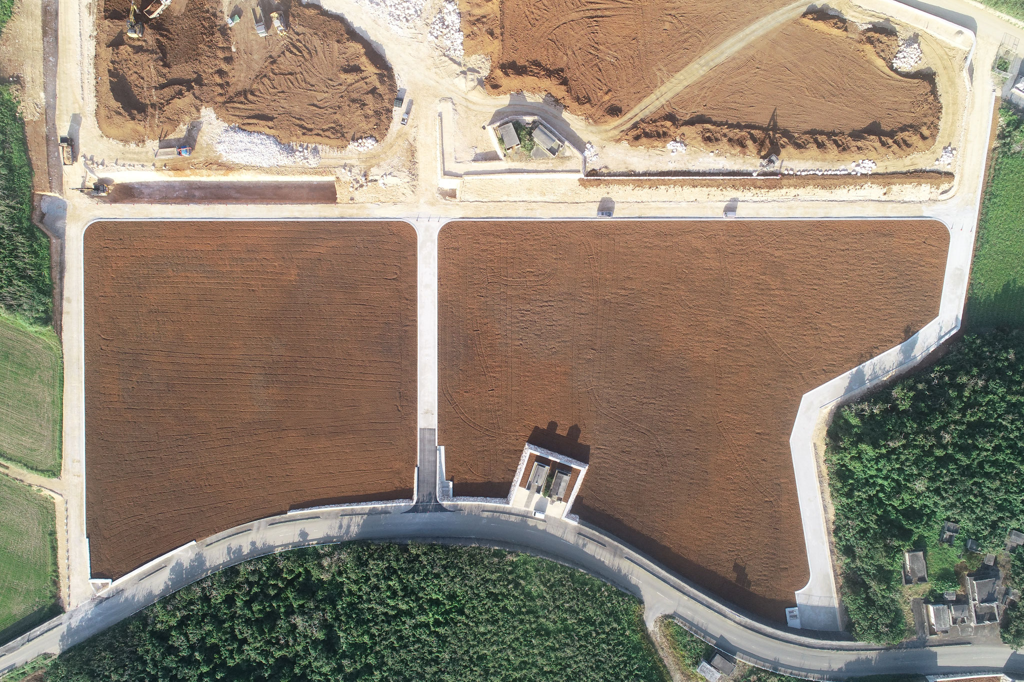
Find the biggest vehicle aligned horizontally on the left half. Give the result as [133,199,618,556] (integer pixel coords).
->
[148,144,191,156]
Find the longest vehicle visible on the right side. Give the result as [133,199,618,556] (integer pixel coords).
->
[760,150,784,175]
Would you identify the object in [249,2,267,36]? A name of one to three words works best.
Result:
vehicle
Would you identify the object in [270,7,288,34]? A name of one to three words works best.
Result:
work vehicle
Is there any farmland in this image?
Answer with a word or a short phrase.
Yes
